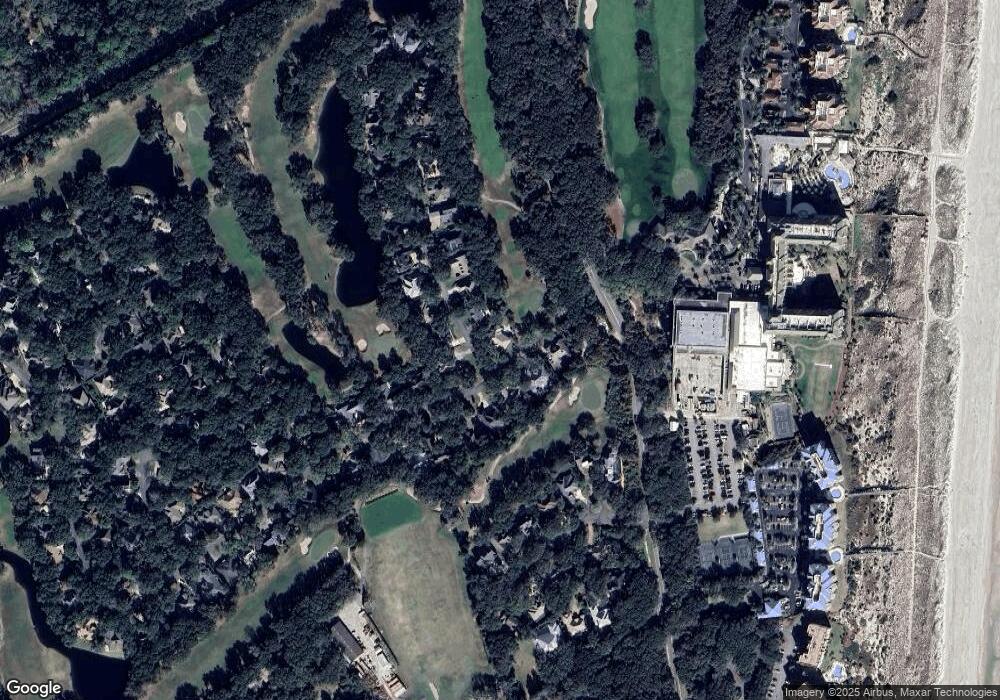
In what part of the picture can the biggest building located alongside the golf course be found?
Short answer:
right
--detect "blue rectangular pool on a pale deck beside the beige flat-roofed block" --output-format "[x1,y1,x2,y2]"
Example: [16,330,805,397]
[826,661,847,683]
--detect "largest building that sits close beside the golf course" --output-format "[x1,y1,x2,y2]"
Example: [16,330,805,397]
[672,293,783,410]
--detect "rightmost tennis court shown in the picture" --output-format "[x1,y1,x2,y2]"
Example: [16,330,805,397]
[772,402,795,437]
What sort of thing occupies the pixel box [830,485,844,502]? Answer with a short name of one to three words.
swimming pool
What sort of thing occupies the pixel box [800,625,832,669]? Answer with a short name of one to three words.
building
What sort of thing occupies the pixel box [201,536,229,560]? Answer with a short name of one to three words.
house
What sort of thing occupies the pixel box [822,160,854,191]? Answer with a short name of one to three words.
swimming pool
